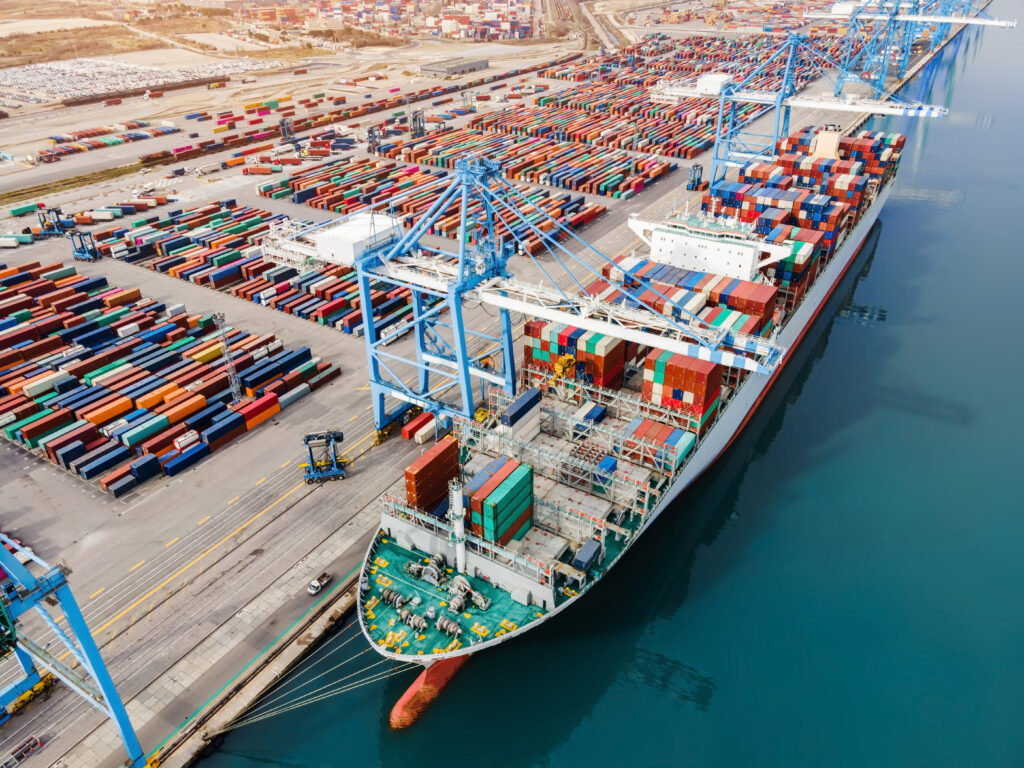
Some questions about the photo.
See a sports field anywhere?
No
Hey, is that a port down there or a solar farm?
port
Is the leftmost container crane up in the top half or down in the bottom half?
bottom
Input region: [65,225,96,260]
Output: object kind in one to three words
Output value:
work vehicle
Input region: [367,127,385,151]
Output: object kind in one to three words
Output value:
work vehicle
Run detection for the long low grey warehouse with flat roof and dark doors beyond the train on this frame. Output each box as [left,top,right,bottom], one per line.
[388,55,487,81]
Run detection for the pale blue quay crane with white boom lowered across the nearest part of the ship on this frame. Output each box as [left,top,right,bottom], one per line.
[249,143,782,442]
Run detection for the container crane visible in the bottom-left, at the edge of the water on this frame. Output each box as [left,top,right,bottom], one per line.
[0,529,171,768]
